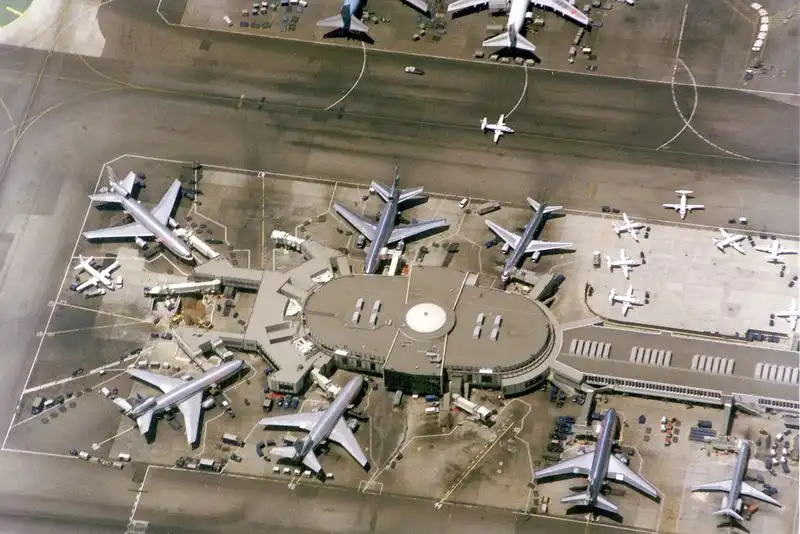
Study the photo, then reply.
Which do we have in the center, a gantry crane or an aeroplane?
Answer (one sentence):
There is an aeroplane in the center.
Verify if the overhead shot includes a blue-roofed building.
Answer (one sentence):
No, I can see no blue-roofed building in this picture.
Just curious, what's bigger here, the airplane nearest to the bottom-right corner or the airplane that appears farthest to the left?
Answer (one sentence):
Of the two, the airplane nearest to the bottom-right corner is bigger, while the airplane that appears farthest to the left is smaller.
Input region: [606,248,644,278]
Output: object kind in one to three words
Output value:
airplane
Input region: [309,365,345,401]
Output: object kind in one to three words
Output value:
jet bridge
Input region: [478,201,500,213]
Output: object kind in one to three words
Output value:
vehicle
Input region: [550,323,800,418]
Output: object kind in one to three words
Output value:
building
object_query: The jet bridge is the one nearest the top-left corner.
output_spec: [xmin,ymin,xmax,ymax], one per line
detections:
[173,224,221,260]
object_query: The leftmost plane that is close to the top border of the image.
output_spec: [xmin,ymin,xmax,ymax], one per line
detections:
[319,0,370,30]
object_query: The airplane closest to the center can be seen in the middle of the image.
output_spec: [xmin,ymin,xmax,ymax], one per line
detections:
[335,175,450,276]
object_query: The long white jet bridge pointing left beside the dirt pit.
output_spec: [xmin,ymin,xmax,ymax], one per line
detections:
[148,276,224,300]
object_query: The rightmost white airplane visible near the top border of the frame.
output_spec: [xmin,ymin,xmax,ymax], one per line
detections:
[449,0,588,50]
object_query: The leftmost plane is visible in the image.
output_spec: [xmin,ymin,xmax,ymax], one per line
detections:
[73,256,121,291]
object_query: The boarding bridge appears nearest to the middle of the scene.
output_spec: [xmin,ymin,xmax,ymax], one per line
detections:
[386,249,402,275]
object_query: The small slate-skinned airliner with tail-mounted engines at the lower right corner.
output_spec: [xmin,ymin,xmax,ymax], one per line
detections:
[694,445,780,525]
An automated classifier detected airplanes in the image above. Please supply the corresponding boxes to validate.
[534,413,659,517]
[111,365,242,447]
[772,301,800,328]
[754,240,797,265]
[606,248,644,278]
[449,0,588,50]
[73,256,121,291]
[609,212,647,241]
[258,380,366,472]
[319,0,370,30]
[77,166,191,262]
[335,175,450,276]
[694,445,780,525]
[711,227,747,255]
[484,193,574,285]
[609,284,647,314]
[479,112,515,140]
[662,186,705,220]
